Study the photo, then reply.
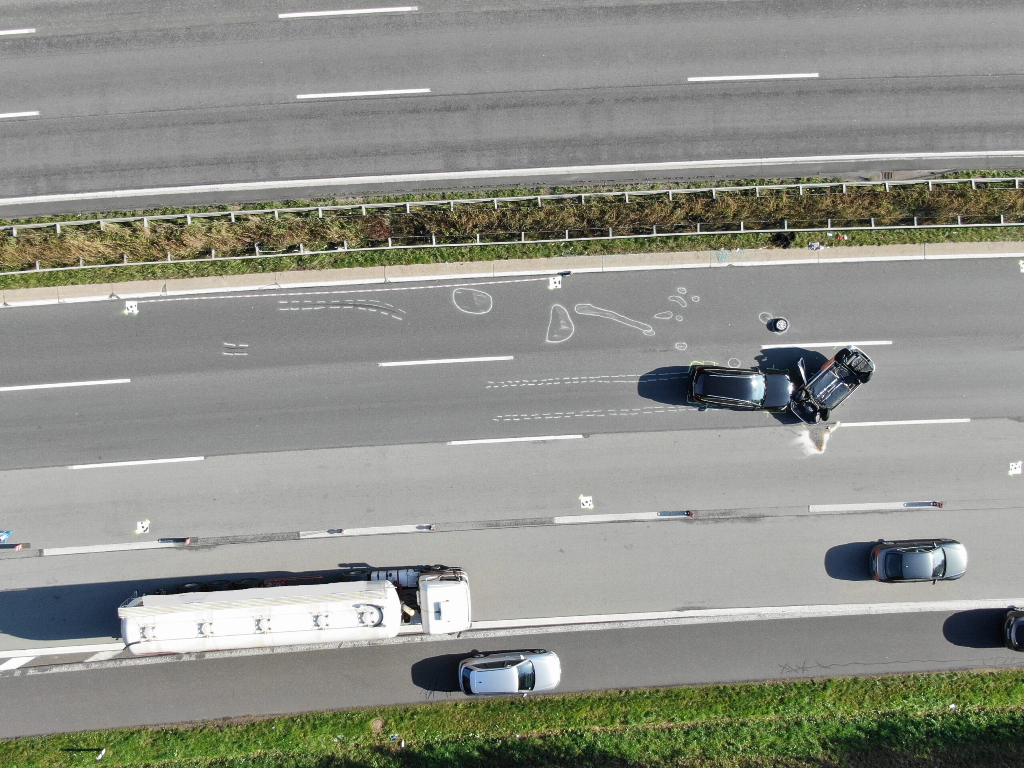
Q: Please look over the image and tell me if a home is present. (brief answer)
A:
No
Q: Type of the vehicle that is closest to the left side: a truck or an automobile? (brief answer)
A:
truck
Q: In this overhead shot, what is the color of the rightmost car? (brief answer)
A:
black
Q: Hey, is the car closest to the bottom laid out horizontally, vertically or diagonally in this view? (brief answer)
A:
horizontally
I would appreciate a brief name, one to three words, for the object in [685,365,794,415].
car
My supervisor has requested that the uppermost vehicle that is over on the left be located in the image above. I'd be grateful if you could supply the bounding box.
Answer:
[108,565,475,659]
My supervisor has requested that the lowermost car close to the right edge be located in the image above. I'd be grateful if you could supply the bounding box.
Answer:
[1000,607,1024,652]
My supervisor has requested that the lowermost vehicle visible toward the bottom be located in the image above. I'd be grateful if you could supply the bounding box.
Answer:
[457,650,562,702]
